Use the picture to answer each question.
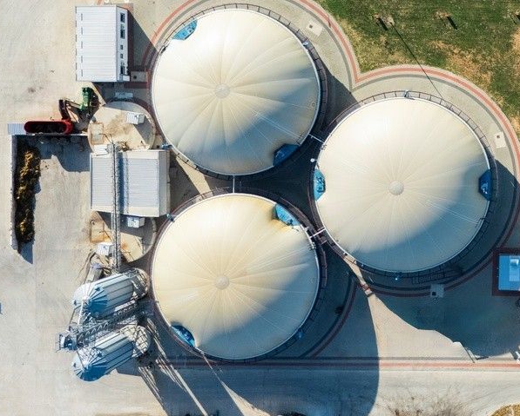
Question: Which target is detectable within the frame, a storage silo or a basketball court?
storage silo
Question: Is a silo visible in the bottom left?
Yes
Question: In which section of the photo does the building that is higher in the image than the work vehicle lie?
top left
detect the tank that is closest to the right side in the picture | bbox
[309,92,496,279]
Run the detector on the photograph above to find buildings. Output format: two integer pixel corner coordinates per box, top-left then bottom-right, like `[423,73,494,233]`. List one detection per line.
[90,151,169,216]
[499,254,520,292]
[76,5,134,83]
